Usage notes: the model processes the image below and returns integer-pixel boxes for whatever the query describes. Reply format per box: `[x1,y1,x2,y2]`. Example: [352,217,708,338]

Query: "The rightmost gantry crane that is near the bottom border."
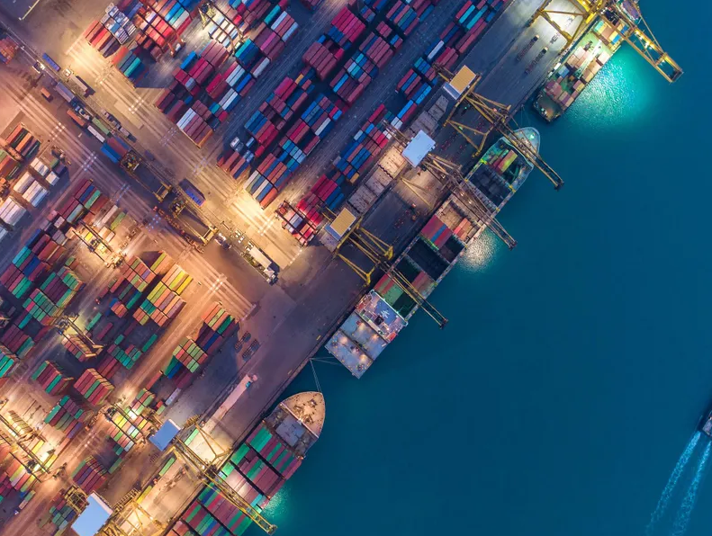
[147,411,278,535]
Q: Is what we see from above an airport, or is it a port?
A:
port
